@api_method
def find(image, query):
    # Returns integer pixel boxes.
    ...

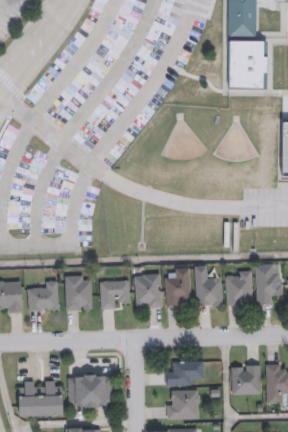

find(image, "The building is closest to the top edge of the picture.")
[229,0,258,36]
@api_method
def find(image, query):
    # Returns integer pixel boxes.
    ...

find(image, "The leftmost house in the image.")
[0,282,22,312]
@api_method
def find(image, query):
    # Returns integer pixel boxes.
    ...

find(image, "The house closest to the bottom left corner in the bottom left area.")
[18,382,64,419]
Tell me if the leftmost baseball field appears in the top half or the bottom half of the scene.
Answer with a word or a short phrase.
top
